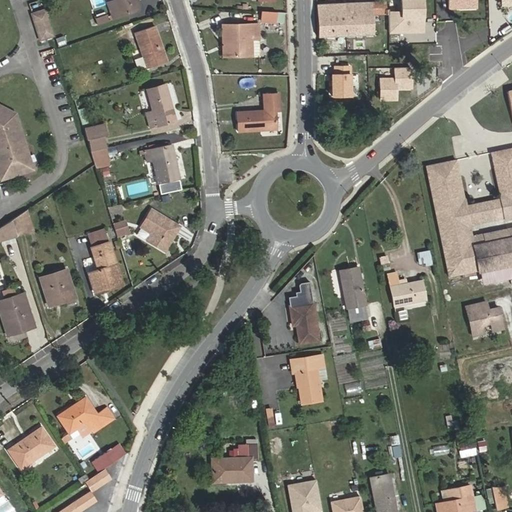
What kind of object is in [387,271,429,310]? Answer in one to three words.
house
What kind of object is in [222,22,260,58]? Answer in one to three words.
house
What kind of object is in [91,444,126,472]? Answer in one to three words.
barn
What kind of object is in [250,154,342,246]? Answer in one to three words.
roundabout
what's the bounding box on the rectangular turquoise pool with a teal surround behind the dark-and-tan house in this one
[120,178,153,200]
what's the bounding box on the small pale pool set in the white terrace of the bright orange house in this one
[68,432,100,460]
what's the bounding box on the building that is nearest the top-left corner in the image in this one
[30,8,54,42]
